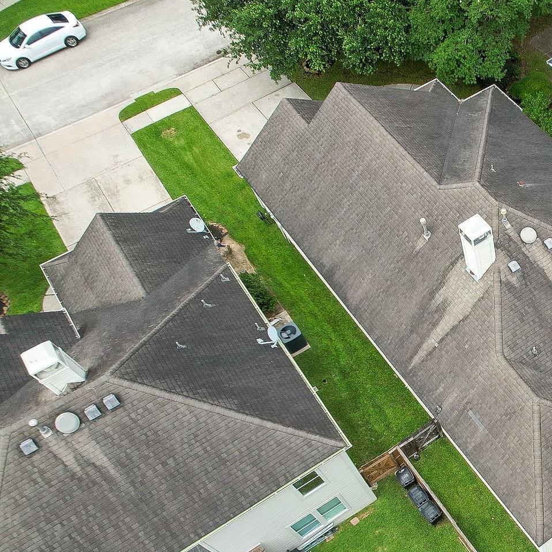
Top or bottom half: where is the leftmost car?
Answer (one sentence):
The leftmost car is in the top half of the image.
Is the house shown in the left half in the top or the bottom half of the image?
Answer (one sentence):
The bottom half of the photo is where the house shown in the left half is.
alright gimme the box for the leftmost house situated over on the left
[0,194,377,552]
